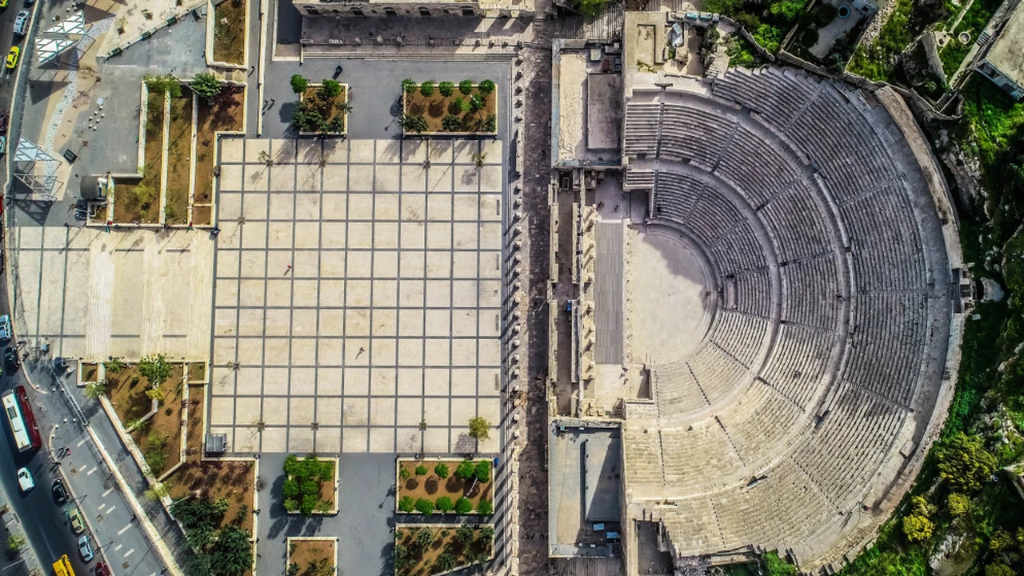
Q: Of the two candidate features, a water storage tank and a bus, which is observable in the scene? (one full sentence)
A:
There is a bus in the scene.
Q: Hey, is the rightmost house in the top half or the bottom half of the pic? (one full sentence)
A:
The rightmost house is in the top half of the image.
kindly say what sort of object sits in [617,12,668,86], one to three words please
building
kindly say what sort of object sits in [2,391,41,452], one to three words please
bus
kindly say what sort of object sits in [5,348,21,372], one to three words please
car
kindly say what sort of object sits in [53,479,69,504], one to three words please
car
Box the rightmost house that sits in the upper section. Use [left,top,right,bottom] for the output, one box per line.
[962,1,1024,107]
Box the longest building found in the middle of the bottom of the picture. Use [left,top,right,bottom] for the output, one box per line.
[547,417,621,556]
